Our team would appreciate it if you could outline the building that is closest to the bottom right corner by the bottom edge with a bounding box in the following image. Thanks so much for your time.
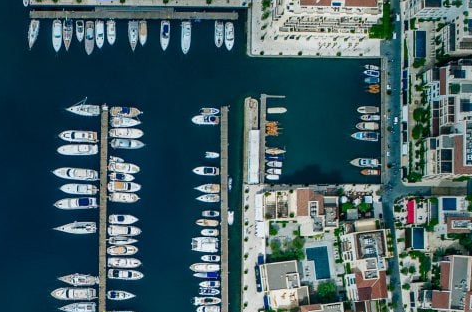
[418,255,472,312]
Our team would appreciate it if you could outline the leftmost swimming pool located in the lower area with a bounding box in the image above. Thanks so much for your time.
[304,244,332,282]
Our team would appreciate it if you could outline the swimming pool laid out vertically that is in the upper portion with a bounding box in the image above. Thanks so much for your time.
[415,30,427,58]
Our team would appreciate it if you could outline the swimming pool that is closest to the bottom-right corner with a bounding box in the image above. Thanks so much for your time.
[412,227,425,250]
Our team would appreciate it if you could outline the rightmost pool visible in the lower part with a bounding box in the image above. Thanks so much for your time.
[441,196,458,212]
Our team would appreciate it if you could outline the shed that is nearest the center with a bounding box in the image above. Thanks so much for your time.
[246,128,259,185]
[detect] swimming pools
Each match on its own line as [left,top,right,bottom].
[412,227,425,250]
[304,244,332,282]
[425,0,441,7]
[415,30,427,58]
[441,196,458,212]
